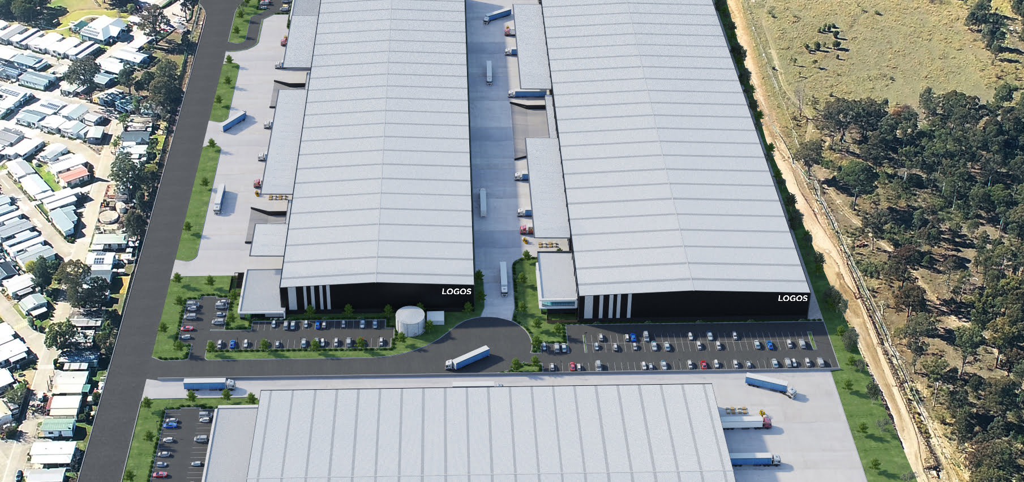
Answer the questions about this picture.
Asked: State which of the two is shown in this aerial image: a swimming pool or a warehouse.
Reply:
warehouse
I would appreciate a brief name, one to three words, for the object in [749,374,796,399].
truck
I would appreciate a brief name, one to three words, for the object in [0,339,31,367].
house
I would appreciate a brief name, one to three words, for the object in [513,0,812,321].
warehouse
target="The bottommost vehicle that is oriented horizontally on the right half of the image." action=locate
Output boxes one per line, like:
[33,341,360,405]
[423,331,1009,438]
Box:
[731,453,782,467]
